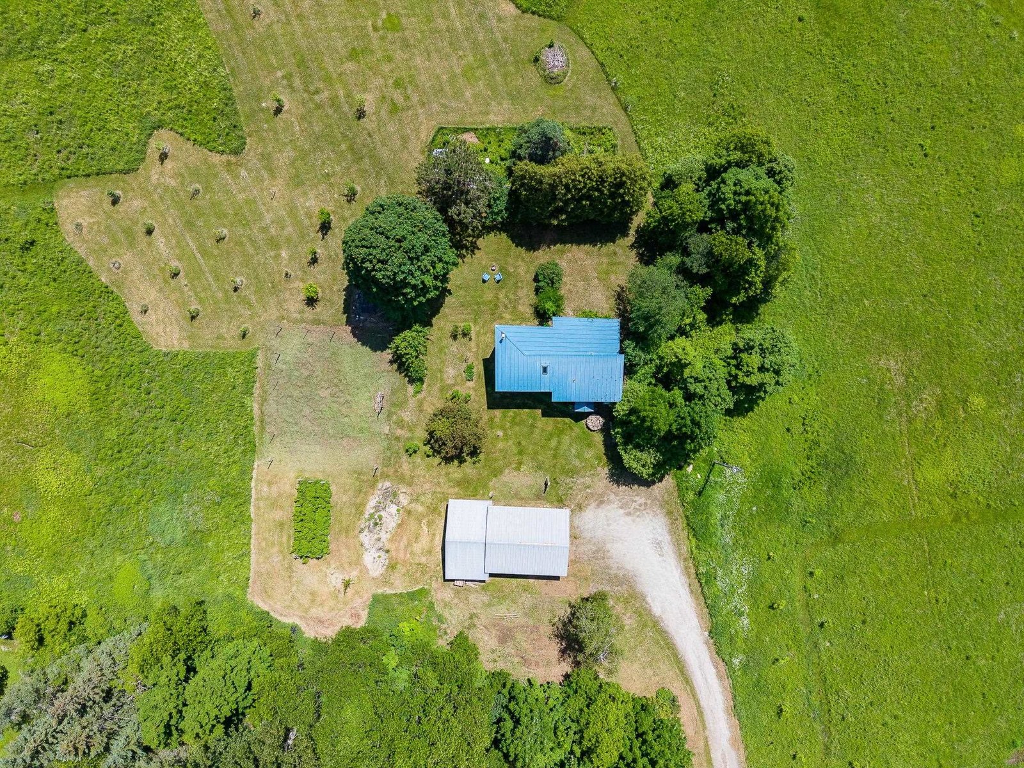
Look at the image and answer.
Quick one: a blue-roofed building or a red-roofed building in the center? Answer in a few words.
blue-roofed building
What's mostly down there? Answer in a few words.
grass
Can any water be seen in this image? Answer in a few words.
No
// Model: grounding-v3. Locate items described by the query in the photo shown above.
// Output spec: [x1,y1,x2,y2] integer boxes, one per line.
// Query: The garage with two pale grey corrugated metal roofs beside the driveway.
[444,497,569,580]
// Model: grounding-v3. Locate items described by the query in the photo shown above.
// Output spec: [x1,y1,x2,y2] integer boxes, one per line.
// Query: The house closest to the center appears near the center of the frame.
[495,316,625,412]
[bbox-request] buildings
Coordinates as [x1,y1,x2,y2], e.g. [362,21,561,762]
[495,316,625,412]
[444,497,569,580]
